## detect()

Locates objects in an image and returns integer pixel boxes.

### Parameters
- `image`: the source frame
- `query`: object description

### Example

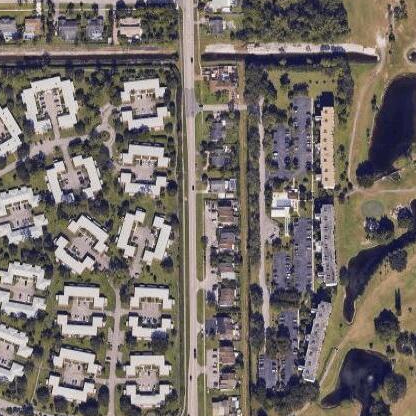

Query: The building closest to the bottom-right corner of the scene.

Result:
[298,301,332,381]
